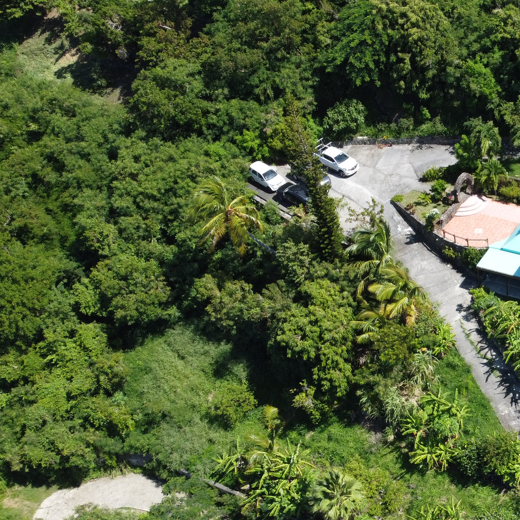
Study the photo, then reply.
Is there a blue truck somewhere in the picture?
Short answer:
No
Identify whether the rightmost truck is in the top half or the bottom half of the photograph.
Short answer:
top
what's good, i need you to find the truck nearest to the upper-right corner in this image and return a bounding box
[314,136,361,180]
